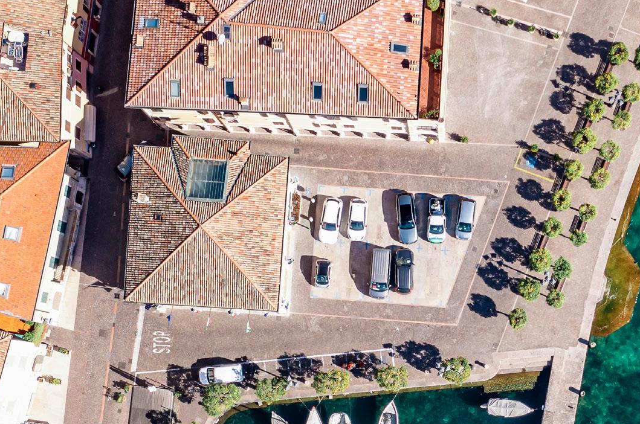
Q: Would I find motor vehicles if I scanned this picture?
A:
Yes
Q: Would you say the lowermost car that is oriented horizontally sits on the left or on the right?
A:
left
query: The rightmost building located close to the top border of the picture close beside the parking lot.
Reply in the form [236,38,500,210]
[125,0,451,143]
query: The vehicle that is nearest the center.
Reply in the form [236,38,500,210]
[316,196,344,244]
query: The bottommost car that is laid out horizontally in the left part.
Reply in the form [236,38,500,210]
[200,363,246,386]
